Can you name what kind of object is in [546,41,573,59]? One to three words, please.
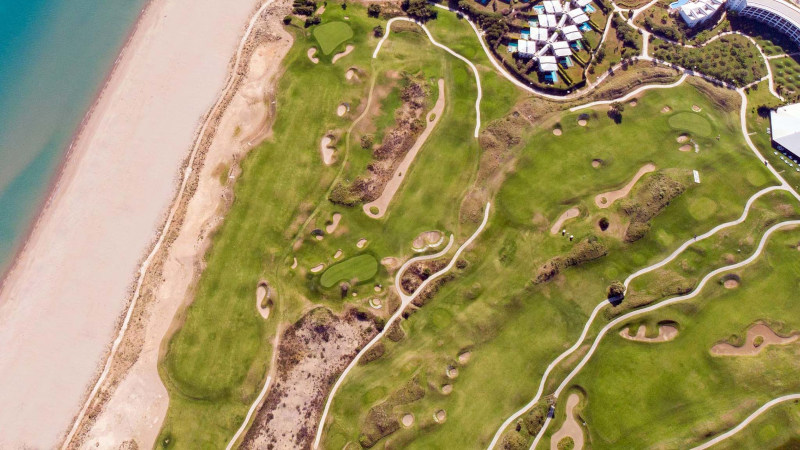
house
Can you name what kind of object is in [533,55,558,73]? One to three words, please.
house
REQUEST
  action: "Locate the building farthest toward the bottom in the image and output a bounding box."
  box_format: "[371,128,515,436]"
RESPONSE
[770,104,800,159]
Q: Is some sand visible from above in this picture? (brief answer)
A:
Yes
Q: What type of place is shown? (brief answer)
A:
golf course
